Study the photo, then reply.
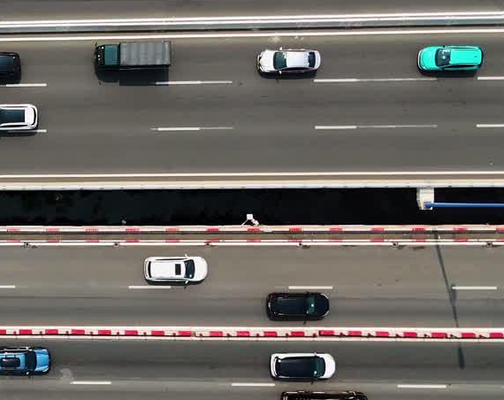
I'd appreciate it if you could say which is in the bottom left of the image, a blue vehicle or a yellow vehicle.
blue vehicle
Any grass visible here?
No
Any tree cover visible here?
No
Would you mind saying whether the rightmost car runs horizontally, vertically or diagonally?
horizontally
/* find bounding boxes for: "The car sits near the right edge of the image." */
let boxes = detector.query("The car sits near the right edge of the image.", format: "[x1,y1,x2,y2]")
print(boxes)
[414,44,483,75]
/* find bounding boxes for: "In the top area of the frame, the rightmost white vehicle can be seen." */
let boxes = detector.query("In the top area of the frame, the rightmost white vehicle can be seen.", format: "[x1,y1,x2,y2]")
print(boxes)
[255,46,319,76]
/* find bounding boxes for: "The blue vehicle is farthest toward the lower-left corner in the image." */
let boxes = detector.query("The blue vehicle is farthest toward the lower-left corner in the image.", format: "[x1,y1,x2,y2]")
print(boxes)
[0,346,50,376]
